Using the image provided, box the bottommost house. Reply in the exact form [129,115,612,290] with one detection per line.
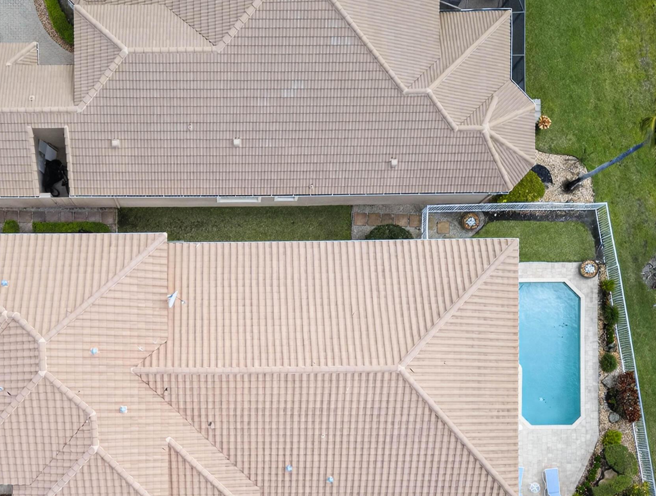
[0,230,522,496]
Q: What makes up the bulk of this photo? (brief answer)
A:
buildings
